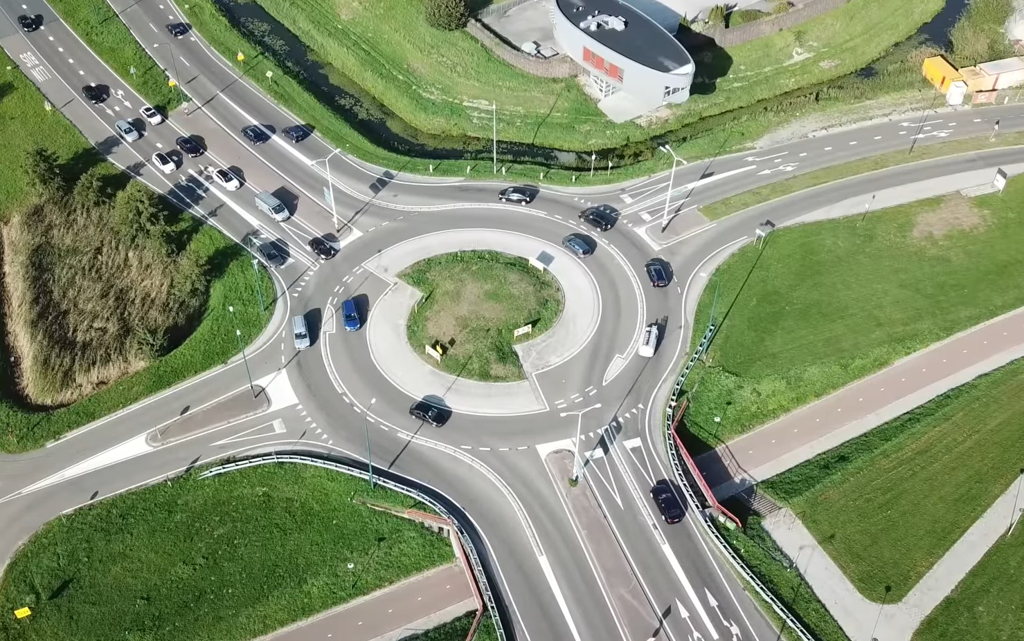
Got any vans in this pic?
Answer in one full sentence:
Yes, a van is visible in the scene.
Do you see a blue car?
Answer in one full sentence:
Yes, a blue car appears in the view.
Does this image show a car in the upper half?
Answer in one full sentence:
Yes, the scene does show a car in the upper half.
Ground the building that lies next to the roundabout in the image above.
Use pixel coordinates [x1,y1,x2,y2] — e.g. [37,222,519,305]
[550,0,694,123]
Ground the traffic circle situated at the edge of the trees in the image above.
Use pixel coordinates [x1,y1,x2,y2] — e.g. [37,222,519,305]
[62,166,687,641]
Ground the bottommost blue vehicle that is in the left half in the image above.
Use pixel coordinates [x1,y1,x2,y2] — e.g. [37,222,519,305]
[341,299,362,333]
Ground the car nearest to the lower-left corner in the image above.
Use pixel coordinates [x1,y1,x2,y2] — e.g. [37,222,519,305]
[290,317,311,351]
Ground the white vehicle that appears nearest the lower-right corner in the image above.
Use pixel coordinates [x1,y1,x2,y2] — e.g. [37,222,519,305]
[636,322,661,358]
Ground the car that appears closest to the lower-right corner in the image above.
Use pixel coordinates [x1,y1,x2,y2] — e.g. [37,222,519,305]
[648,485,684,526]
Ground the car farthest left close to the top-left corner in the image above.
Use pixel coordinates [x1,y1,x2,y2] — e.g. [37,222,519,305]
[19,17,35,32]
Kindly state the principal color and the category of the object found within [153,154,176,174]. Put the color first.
white car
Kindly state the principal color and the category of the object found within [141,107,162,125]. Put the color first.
white car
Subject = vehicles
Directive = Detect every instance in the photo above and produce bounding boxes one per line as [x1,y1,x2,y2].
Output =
[176,139,201,158]
[213,171,240,191]
[153,154,176,174]
[560,237,593,259]
[577,212,612,233]
[341,299,362,333]
[406,403,447,431]
[308,238,335,261]
[254,187,291,221]
[283,128,305,144]
[141,107,162,125]
[84,85,105,104]
[648,485,684,526]
[19,17,35,32]
[255,244,285,268]
[116,122,138,142]
[242,128,267,145]
[290,317,311,351]
[499,191,531,207]
[647,264,667,289]
[636,322,661,358]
